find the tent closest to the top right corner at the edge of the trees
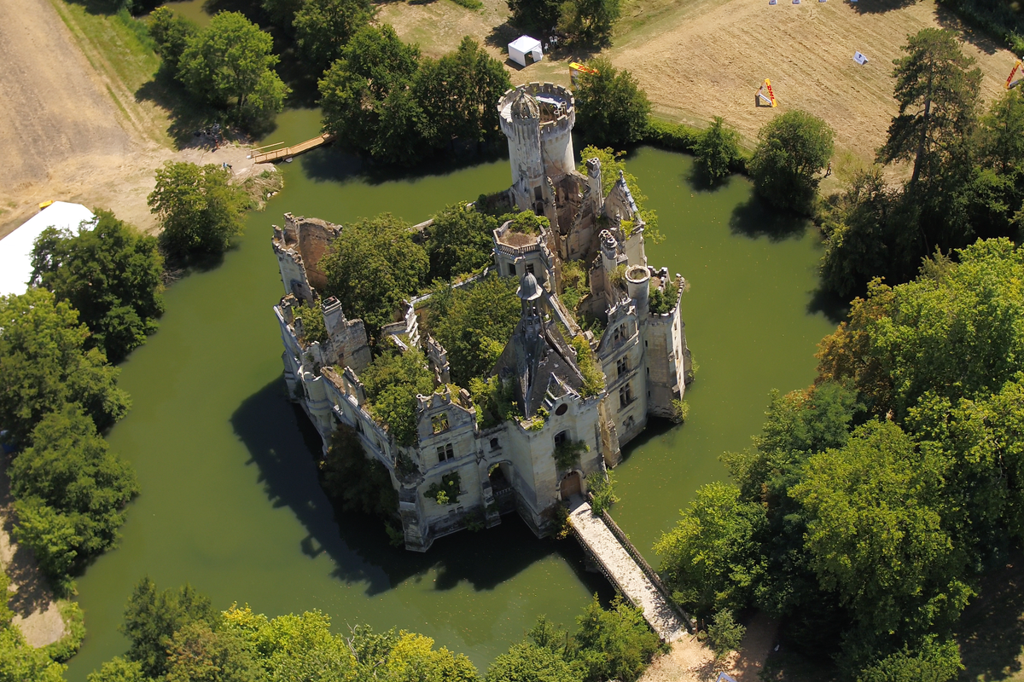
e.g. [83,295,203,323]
[508,36,542,66]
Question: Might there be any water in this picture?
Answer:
Yes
